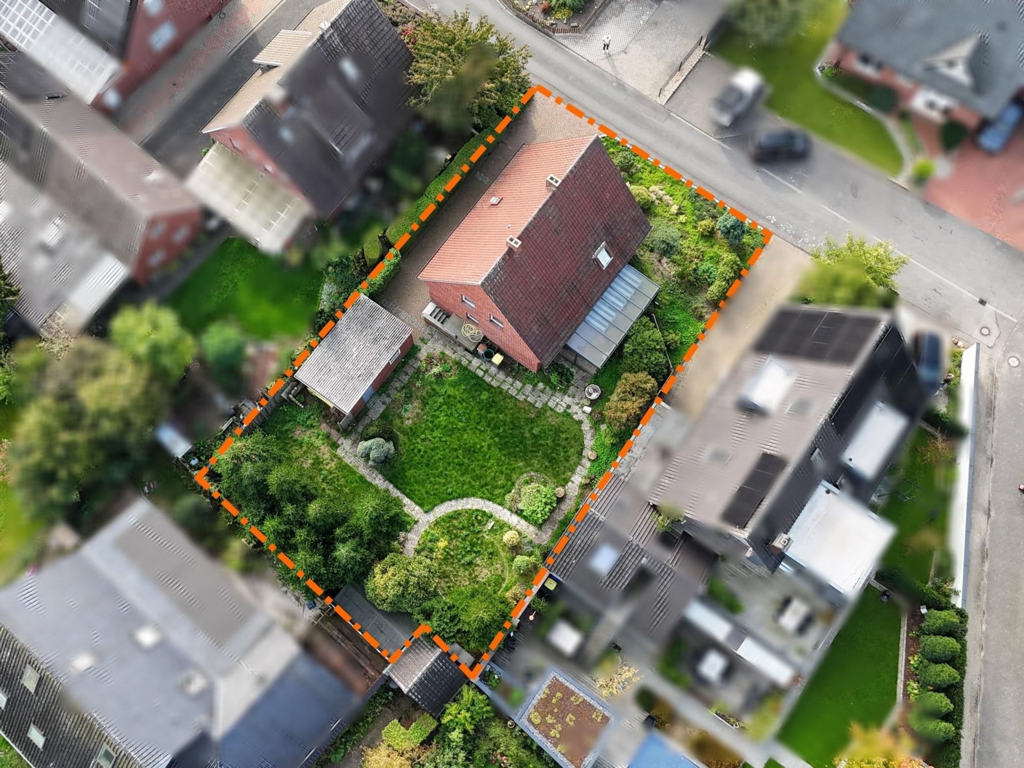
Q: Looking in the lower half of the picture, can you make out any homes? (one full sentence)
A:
Yes, a home appears in the lower half of the picture.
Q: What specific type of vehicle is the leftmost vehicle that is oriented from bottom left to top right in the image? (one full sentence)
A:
In the photo, the leftmost vehicle that is oriented from bottom left to top right shows up as a car.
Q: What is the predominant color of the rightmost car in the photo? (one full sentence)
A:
The rightmost car is blue.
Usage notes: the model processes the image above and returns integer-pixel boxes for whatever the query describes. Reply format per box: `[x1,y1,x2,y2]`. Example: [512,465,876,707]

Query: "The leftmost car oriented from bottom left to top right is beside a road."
[714,66,768,126]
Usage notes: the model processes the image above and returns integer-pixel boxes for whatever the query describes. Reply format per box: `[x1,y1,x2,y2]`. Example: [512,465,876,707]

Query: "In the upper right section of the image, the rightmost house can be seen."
[822,0,1024,132]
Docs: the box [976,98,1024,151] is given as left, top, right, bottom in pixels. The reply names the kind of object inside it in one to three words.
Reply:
car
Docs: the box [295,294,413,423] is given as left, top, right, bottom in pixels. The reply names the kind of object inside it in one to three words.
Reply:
shed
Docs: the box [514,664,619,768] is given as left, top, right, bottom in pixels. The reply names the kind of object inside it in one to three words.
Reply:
building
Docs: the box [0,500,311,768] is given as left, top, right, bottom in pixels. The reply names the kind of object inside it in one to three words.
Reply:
house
